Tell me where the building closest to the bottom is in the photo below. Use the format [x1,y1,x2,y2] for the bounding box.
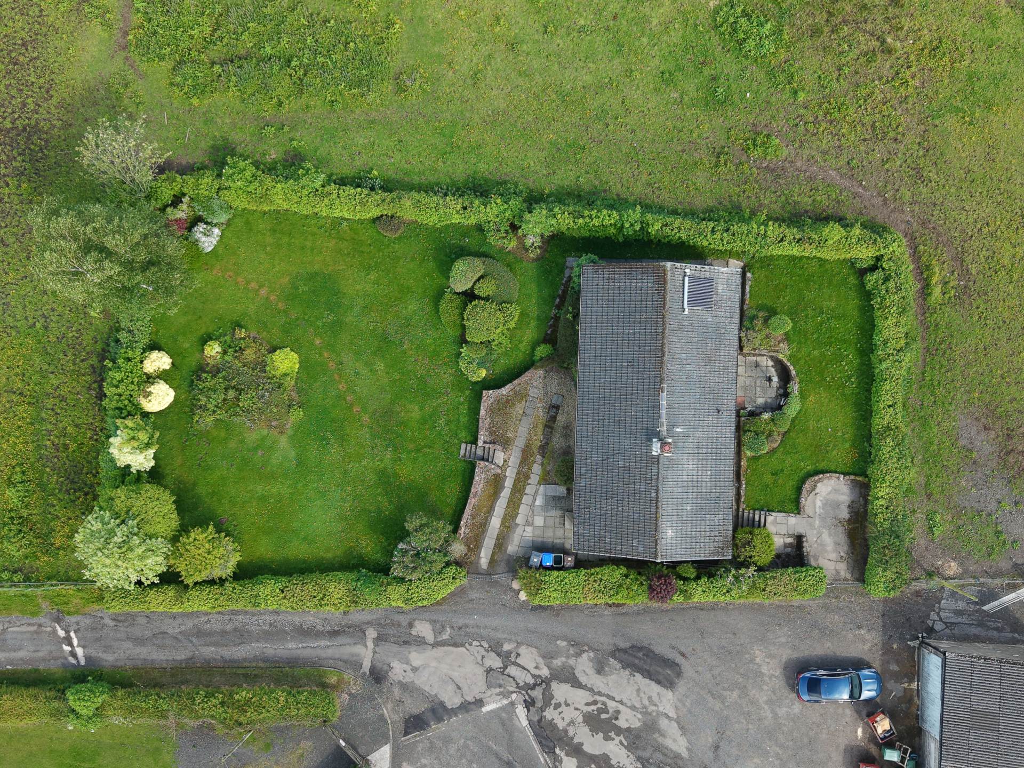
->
[916,636,1024,768]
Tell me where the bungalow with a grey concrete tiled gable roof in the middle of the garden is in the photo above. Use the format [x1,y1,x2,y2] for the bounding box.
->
[569,259,744,565]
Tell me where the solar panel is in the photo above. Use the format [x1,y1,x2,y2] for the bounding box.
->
[684,266,712,315]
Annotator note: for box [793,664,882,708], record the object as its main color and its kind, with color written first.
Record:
blue car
